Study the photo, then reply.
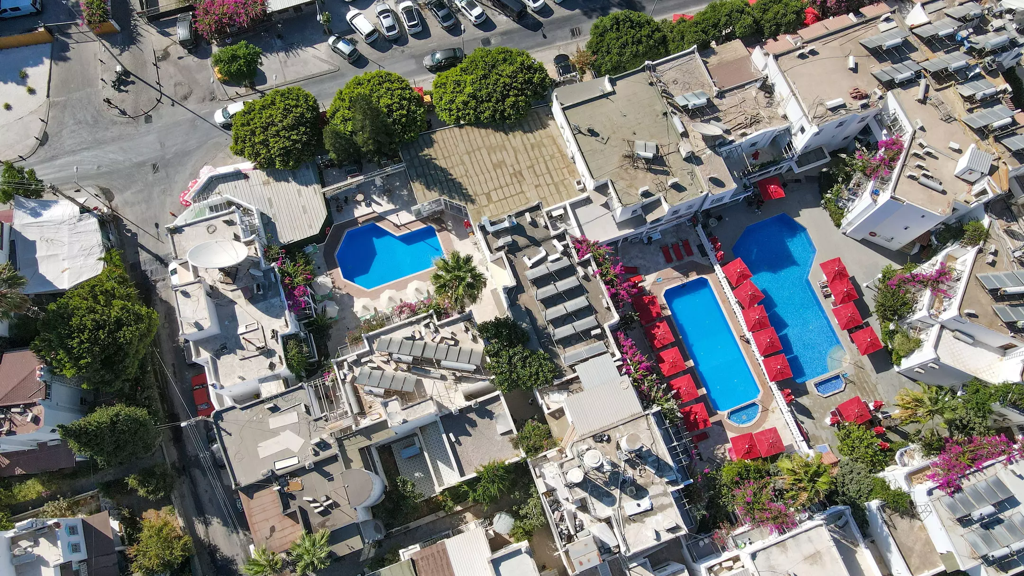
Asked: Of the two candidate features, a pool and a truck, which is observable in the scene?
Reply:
pool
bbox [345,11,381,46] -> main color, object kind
white car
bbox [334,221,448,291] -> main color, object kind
blue swimming pool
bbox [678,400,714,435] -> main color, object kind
red umbrella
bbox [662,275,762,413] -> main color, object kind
blue swimming pool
